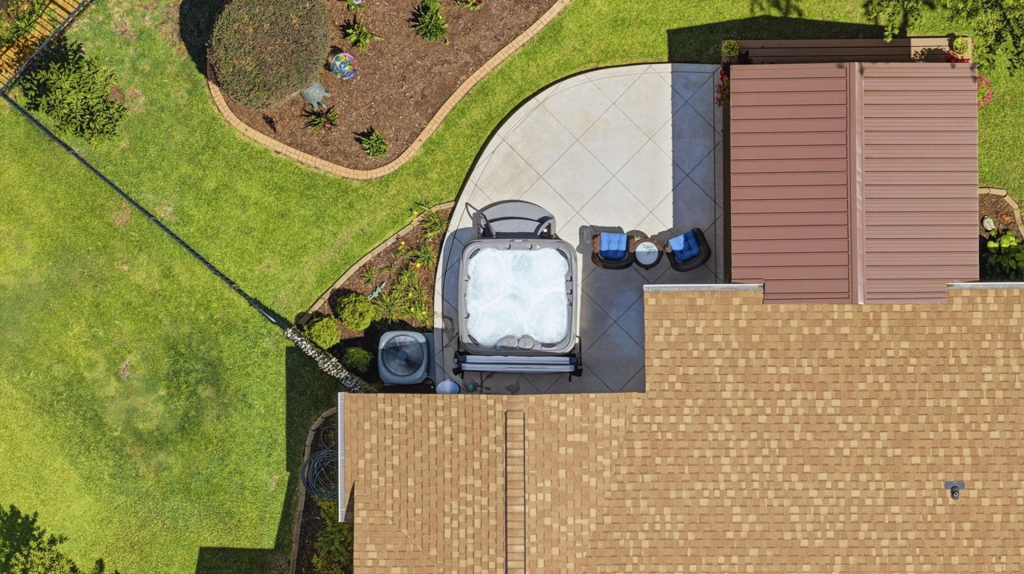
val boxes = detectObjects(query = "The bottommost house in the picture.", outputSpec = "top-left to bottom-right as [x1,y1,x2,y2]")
[339,283,1024,574]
